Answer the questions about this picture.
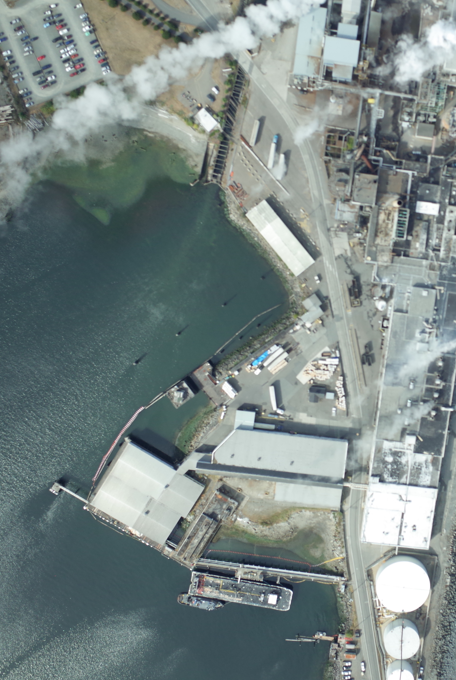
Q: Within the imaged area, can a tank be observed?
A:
Yes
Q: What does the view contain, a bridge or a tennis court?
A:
bridge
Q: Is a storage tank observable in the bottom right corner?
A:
Yes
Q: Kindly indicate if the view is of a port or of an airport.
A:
port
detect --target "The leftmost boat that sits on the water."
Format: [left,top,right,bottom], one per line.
[176,592,225,611]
